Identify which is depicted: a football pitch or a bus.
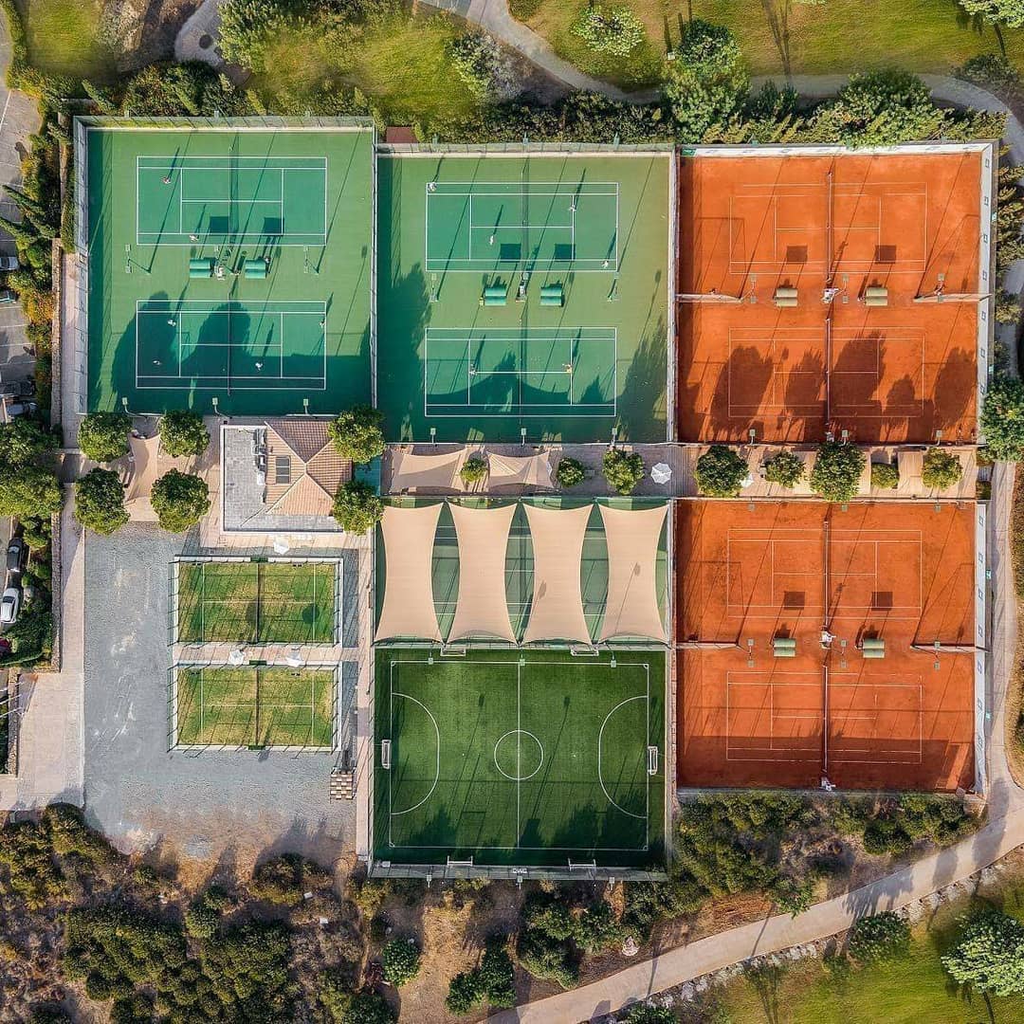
football pitch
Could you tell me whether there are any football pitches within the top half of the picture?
No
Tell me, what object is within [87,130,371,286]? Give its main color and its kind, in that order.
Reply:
green tennis court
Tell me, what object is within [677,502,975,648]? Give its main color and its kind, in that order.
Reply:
orange tennis court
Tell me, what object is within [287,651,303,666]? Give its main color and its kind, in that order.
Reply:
white umbrella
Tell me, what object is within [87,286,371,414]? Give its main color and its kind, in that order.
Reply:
green tennis court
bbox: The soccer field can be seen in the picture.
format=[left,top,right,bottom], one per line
[372,650,665,867]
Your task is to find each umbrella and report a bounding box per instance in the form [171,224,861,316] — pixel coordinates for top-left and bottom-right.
[275,537,290,553]
[650,462,671,484]
[230,648,245,663]
[287,651,303,666]
[741,474,756,486]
